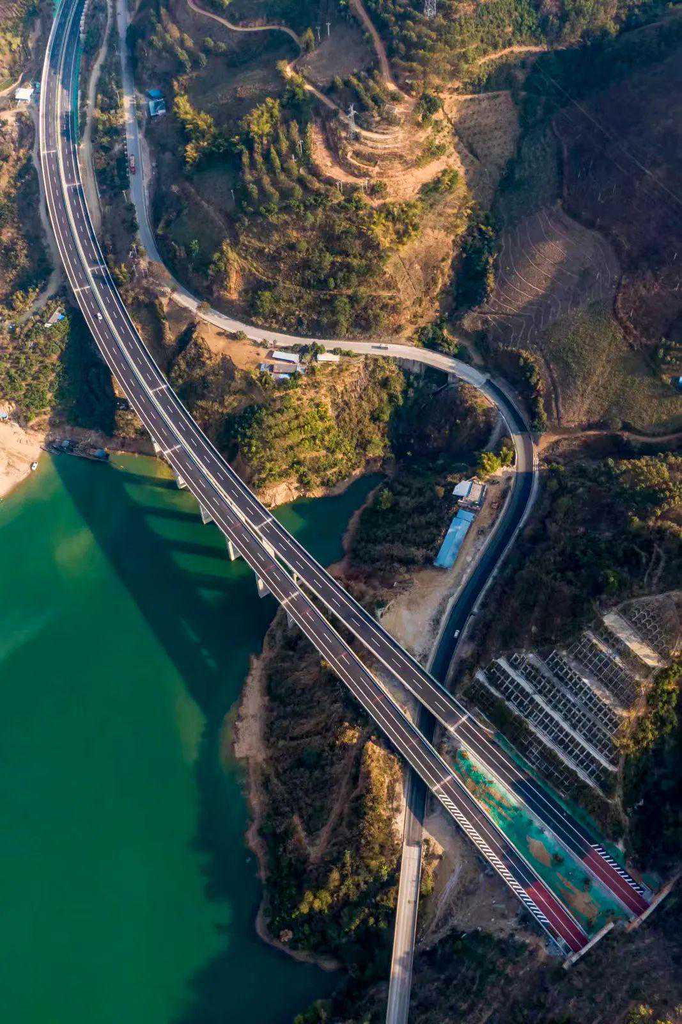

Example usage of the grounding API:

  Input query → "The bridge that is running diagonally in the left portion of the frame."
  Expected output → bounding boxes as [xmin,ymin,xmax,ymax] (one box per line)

[41,151,447,783]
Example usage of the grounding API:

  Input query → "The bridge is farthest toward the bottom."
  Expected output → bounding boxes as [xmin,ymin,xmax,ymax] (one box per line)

[386,845,422,1024]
